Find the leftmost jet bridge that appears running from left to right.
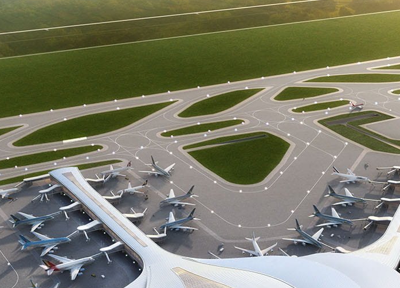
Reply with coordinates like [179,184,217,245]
[13,175,50,187]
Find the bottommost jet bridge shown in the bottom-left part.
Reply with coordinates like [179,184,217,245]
[92,243,124,264]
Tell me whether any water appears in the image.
No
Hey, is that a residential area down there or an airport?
airport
